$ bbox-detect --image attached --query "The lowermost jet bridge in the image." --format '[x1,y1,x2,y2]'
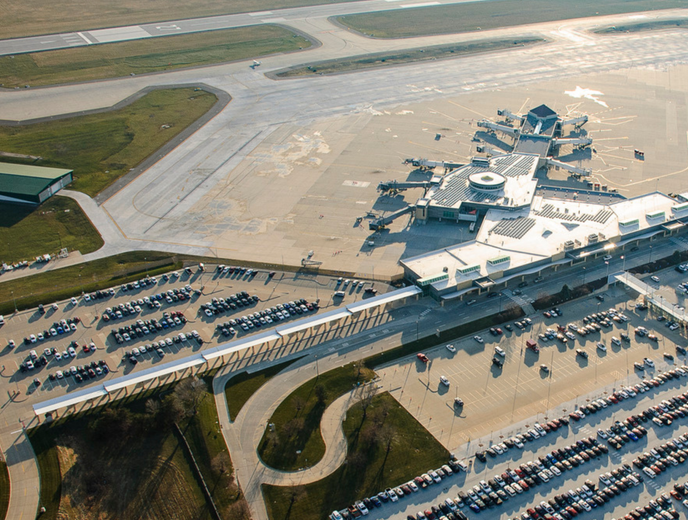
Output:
[369,202,415,230]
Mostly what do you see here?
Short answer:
paved ground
